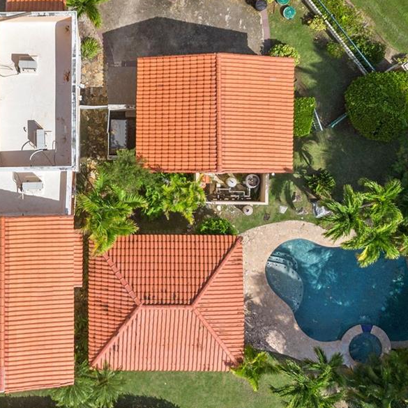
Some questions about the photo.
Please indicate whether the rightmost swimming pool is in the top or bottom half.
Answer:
bottom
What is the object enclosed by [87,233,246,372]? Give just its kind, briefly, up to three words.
building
